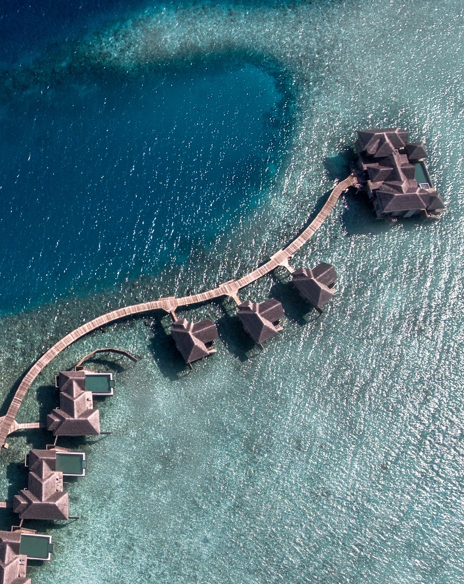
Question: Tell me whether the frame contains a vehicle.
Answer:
No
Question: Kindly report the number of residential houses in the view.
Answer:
4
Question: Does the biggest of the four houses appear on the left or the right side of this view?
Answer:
right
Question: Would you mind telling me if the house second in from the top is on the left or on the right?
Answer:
right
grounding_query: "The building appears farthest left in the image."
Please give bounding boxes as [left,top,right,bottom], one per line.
[165,318,219,377]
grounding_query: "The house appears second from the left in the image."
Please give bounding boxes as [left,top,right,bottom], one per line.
[229,298,285,358]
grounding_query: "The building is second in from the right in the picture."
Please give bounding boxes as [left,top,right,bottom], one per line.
[281,263,340,321]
